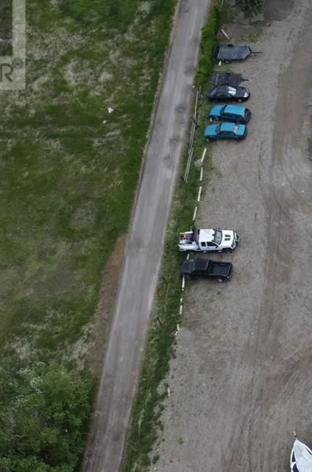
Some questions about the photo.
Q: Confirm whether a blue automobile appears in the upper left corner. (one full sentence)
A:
No, no blue automobile is visible in the upper left corner.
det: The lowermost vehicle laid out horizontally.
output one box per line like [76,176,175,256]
[178,258,237,283]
